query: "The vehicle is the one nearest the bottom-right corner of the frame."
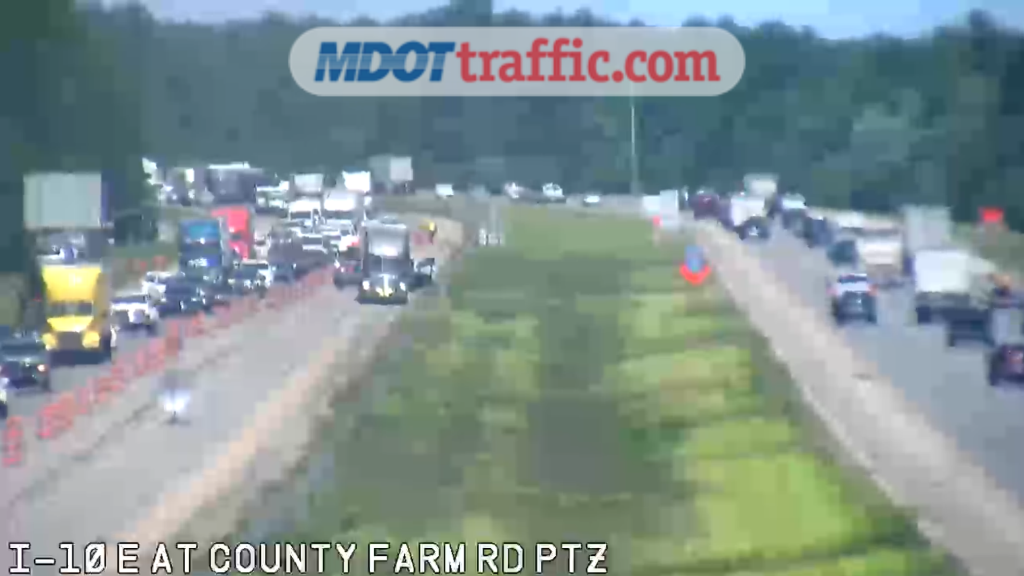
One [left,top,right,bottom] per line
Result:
[981,340,1024,385]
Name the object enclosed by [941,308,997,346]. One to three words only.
car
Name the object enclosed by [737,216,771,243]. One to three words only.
car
